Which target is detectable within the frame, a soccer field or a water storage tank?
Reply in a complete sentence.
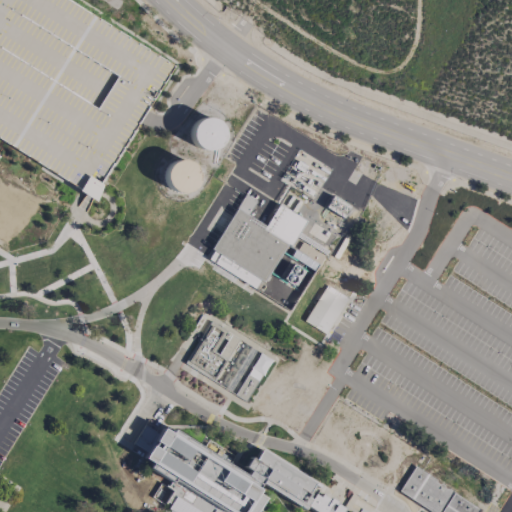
Looking from above, you can make out a water storage tank.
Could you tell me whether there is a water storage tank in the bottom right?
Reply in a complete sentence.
No, no water storage tank can be made out in the bottom right.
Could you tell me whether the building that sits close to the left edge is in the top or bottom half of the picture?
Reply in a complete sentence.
The building that sits close to the left edge sits in the top half of the picture.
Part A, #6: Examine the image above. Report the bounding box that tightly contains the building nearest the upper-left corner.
[0,0,176,202]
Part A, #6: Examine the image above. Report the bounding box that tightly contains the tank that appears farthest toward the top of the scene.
[188,116,230,154]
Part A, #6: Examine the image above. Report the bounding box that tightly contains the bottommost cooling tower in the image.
[285,264,308,288]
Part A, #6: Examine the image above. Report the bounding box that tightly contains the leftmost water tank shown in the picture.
[162,158,204,198]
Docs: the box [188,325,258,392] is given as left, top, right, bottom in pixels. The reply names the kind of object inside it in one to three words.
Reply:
building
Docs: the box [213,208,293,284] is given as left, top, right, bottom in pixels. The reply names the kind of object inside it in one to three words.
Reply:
building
